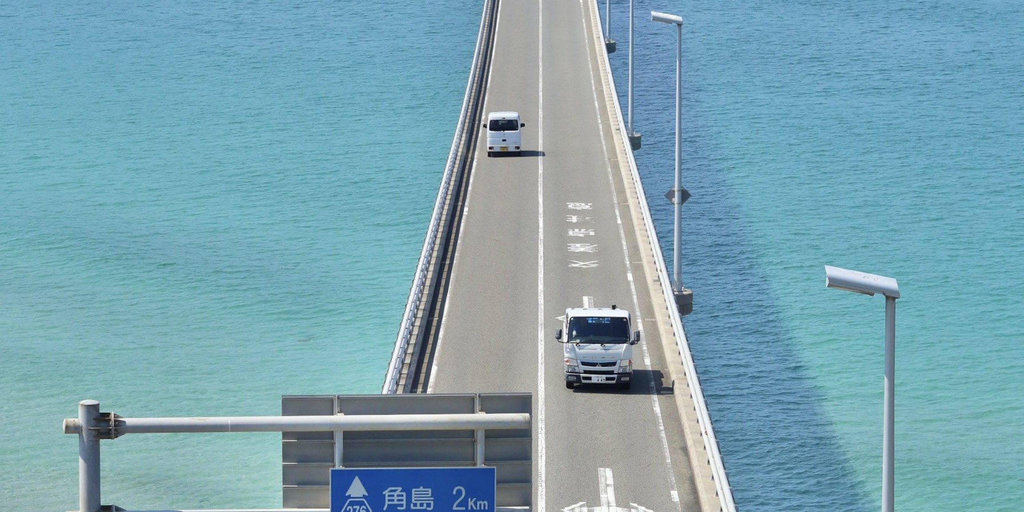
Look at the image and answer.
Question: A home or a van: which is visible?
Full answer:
I can see a van in this picture.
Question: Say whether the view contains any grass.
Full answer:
No, there's no grass in this view.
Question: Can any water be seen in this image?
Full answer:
Yes, some water is visible.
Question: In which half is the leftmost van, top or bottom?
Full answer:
The leftmost van is in the top half of the image.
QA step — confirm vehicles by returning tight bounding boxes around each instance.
[555,305,640,389]
[483,111,525,157]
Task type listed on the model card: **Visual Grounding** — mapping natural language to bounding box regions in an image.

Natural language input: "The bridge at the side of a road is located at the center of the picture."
[387,0,733,512]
